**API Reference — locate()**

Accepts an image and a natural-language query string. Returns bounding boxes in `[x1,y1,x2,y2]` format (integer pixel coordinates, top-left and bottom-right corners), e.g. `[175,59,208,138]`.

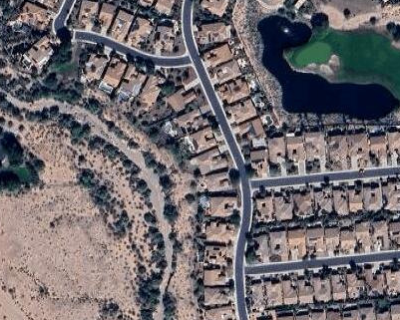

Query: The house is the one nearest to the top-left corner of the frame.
[20,3,55,24]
